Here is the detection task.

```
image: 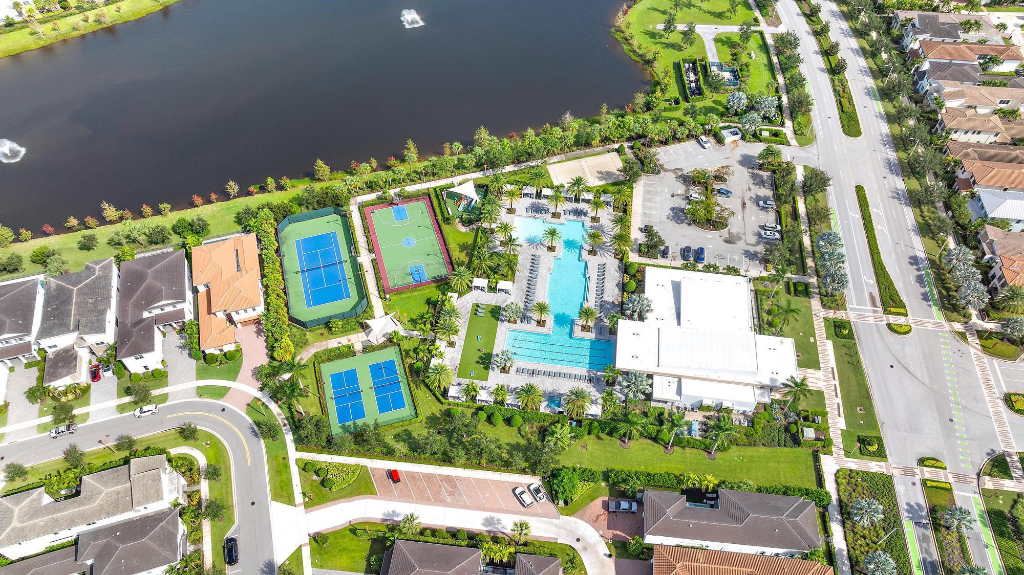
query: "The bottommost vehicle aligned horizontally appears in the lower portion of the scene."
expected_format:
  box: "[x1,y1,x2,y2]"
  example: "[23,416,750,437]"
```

[609,499,638,512]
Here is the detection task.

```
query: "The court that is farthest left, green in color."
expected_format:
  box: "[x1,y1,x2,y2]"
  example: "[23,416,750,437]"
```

[280,214,366,329]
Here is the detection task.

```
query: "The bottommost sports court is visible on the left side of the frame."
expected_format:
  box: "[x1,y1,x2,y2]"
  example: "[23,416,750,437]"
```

[320,348,416,438]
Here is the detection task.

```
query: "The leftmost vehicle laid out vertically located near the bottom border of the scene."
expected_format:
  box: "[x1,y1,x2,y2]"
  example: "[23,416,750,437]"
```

[223,537,236,564]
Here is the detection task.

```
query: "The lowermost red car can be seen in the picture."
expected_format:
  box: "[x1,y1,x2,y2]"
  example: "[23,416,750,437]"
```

[389,464,402,487]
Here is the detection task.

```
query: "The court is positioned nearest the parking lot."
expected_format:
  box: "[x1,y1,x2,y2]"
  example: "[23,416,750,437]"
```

[547,152,629,186]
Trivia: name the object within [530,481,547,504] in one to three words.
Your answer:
car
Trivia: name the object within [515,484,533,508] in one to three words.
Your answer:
car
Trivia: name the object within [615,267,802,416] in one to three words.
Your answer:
building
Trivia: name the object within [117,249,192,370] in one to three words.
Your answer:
house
